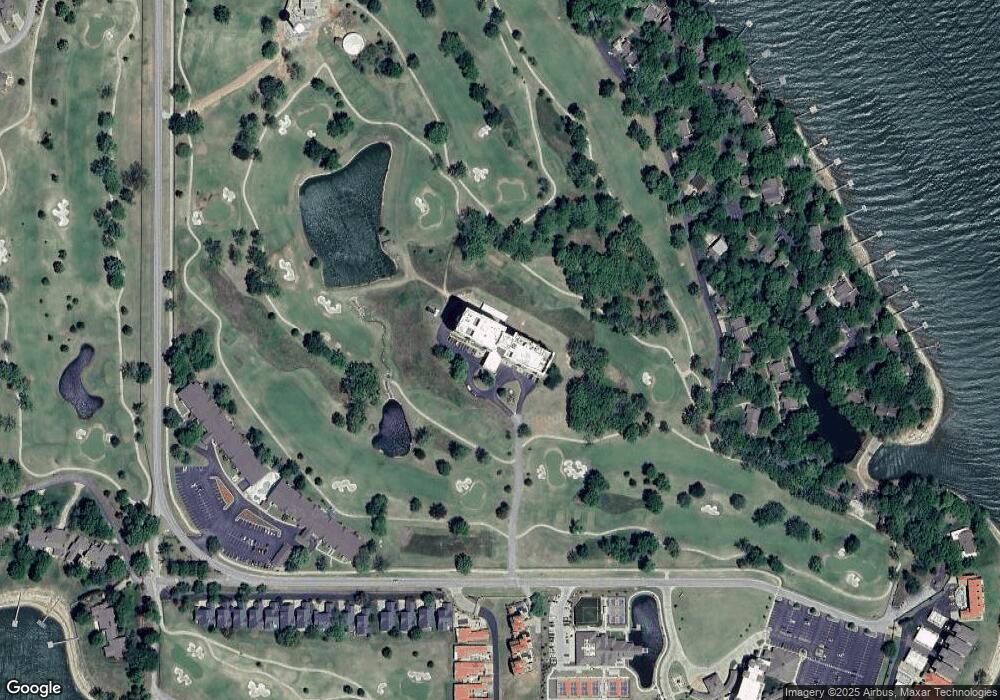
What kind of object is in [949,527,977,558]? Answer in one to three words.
house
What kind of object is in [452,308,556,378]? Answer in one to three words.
building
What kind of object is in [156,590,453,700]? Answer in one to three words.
golf course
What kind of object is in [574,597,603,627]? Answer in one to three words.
tennis court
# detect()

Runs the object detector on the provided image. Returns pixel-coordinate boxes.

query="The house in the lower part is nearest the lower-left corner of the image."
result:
[88,605,126,658]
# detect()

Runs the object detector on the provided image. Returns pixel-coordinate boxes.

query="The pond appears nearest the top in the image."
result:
[299,142,396,286]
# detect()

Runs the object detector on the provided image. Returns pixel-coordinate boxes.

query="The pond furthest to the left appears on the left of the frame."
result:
[59,344,104,419]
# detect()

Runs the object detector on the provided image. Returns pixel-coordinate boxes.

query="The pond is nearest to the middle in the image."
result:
[372,398,411,457]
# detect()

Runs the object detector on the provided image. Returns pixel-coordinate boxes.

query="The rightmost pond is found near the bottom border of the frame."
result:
[628,595,662,686]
